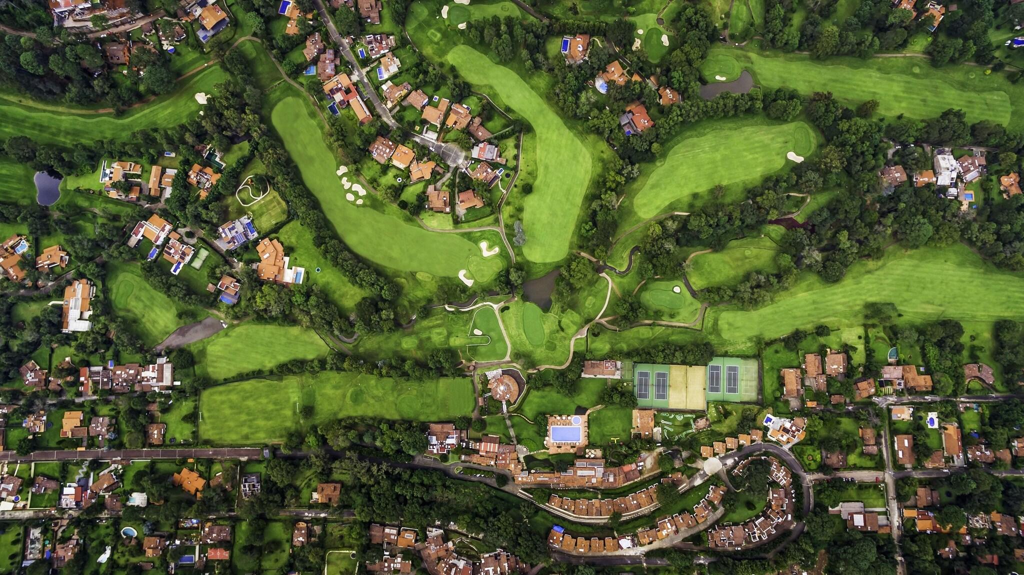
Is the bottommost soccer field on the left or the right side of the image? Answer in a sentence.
The bottommost soccer field appears in the left half of the scene.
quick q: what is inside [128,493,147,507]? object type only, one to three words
swimming pool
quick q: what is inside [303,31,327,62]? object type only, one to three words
house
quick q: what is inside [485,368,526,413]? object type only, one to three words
building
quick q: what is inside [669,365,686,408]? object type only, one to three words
tennis court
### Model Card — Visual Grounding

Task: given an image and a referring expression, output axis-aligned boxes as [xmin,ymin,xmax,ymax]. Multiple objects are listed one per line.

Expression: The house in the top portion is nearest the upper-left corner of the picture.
[50,0,102,28]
